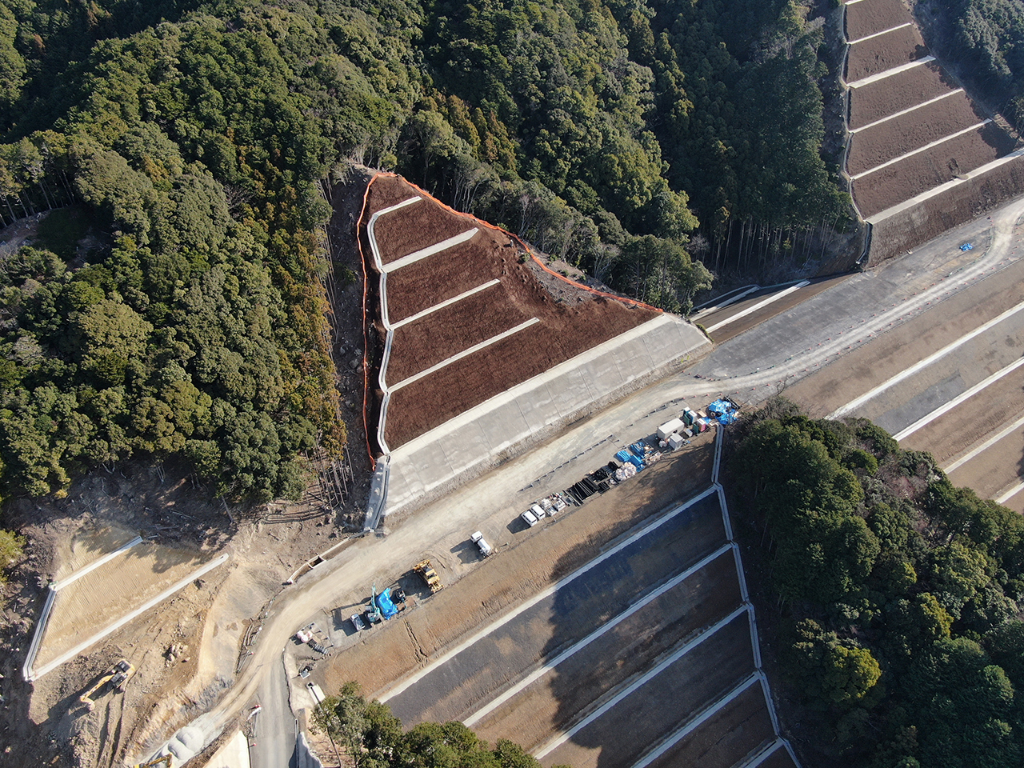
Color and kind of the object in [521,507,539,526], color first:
white vehicle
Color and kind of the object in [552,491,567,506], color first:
white vehicle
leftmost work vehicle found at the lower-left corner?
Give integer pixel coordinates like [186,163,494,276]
[75,659,136,710]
